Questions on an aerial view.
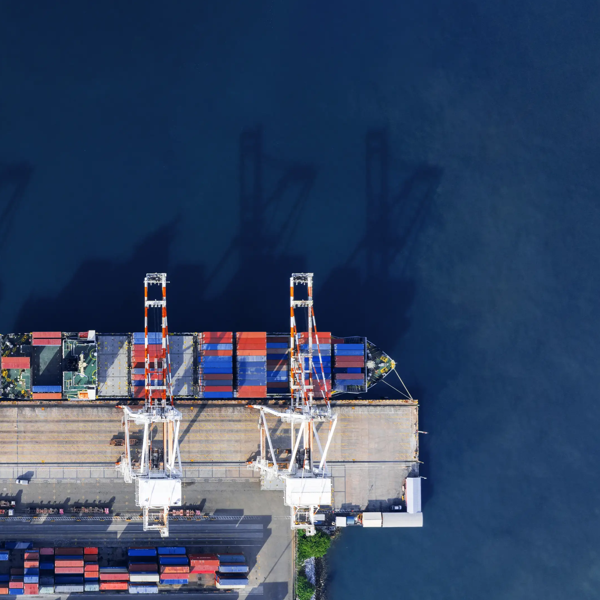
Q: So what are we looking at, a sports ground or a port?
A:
port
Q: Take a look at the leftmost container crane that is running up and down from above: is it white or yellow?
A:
white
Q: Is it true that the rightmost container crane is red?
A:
No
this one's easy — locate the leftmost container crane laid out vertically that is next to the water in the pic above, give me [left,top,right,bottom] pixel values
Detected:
[112,273,190,538]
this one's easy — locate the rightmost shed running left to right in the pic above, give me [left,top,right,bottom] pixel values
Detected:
[378,512,423,527]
